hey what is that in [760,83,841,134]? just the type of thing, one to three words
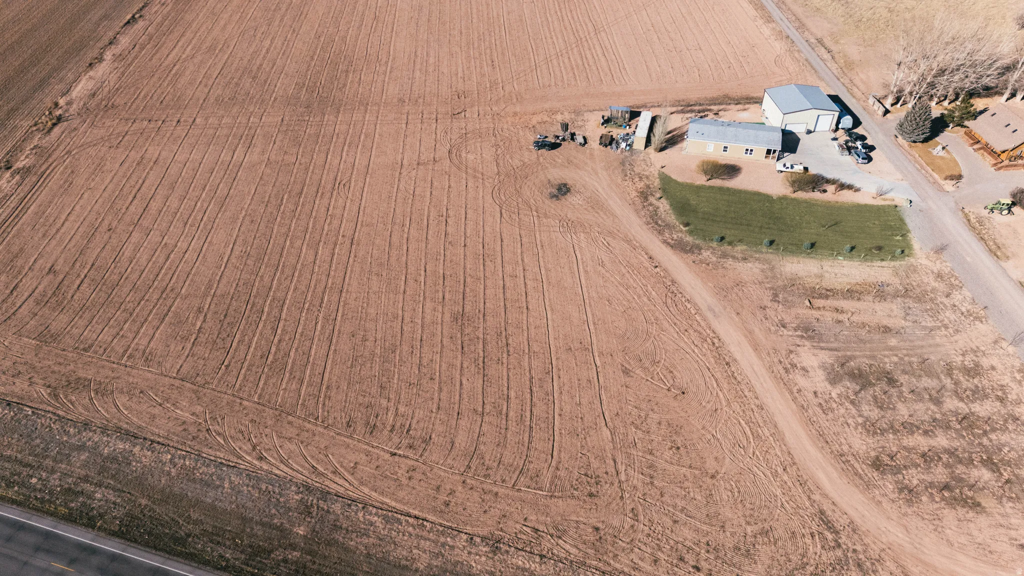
building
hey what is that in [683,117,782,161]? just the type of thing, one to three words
house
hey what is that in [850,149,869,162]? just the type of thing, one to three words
vehicle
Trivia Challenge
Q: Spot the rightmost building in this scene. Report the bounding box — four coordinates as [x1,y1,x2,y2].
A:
[962,103,1024,174]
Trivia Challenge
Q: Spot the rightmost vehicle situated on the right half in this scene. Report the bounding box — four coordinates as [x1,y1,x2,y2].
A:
[987,199,1012,216]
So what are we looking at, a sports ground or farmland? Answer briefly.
farmland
